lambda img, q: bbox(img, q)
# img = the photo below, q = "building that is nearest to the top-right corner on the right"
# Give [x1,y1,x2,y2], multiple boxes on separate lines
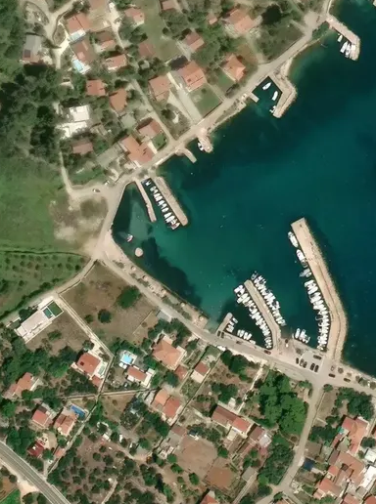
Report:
[226,7,256,36]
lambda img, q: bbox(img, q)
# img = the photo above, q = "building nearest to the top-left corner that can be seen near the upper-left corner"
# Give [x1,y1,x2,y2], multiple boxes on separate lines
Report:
[23,34,49,62]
